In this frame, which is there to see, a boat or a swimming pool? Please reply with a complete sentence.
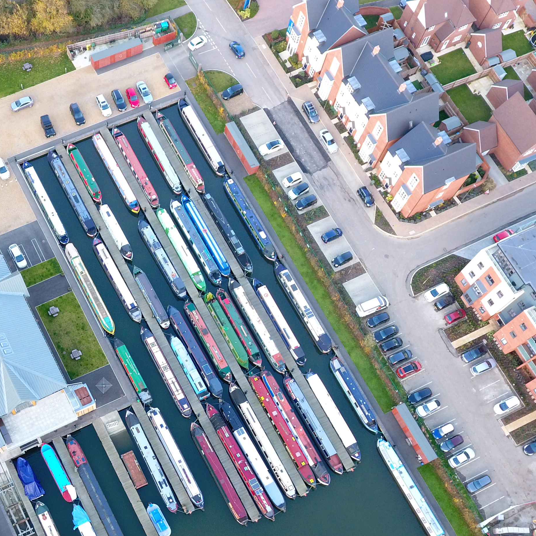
I can see a boat in this picture.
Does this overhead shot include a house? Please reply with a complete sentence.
Yes, the frame does contain a house.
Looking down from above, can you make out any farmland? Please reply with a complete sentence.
No, there's no farmland in this view.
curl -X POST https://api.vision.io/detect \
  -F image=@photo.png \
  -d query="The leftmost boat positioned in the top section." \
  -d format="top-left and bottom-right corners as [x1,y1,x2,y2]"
[24,161,71,246]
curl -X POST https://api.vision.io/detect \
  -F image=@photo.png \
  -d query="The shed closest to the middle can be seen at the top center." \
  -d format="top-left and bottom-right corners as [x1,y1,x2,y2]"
[224,116,262,173]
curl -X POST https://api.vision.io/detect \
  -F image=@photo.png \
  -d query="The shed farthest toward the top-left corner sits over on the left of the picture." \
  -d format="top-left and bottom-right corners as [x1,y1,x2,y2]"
[90,35,145,71]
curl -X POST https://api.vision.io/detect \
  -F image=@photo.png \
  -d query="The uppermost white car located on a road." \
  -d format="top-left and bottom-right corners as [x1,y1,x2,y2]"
[187,34,210,52]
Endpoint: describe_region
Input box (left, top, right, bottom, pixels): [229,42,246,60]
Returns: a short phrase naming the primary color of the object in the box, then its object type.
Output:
blue car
